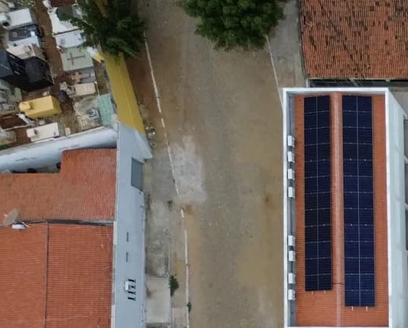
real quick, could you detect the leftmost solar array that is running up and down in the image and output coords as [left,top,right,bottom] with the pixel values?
[305,93,333,290]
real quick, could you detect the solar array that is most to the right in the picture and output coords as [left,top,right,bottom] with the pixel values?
[343,93,374,311]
